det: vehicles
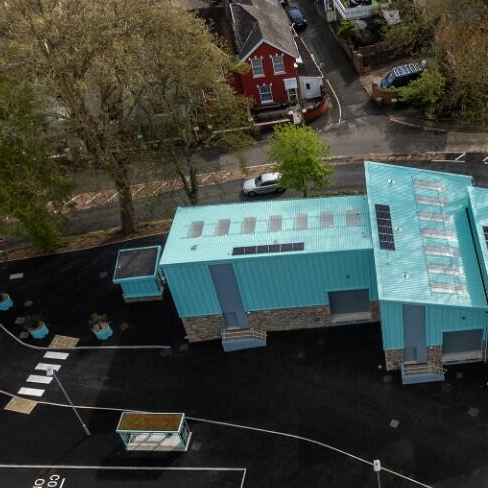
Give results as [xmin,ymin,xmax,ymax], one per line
[380,60,431,93]
[240,171,287,198]
[281,0,310,24]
